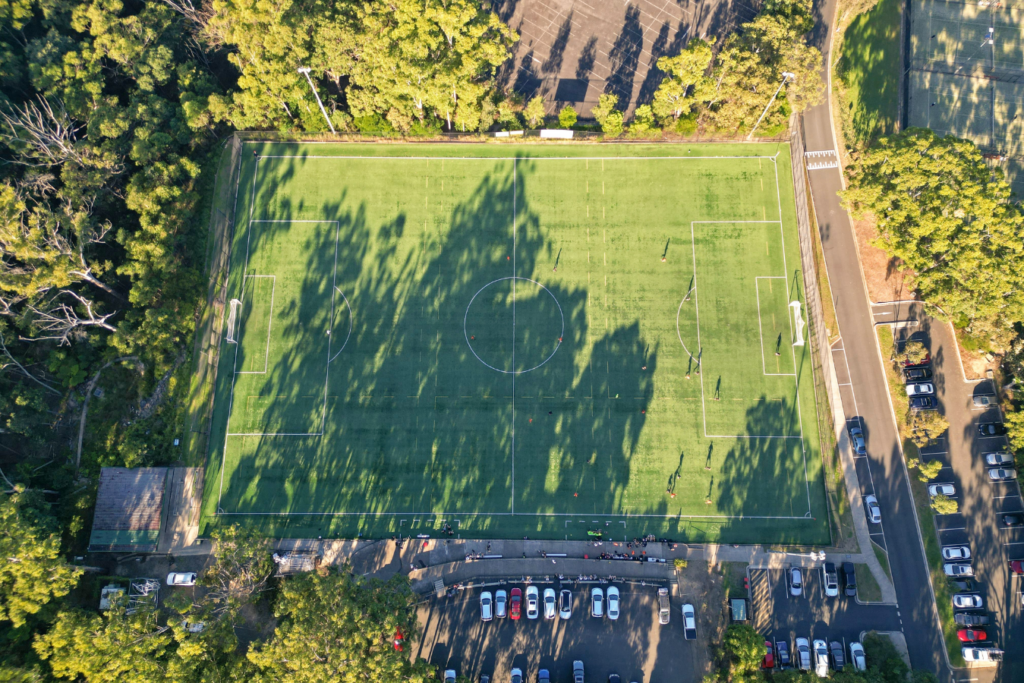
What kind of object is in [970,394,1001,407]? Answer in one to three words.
vehicle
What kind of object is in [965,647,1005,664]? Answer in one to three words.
vehicle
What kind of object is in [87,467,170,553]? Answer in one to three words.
building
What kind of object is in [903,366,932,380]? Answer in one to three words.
car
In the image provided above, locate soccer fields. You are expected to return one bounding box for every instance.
[198,142,832,544]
